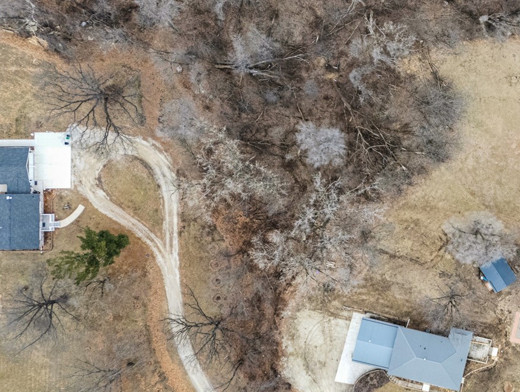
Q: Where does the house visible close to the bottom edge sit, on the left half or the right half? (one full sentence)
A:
The house visible close to the bottom edge sits on the right side.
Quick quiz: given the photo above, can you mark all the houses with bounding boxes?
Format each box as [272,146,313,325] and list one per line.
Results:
[0,147,44,249]
[351,317,473,392]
